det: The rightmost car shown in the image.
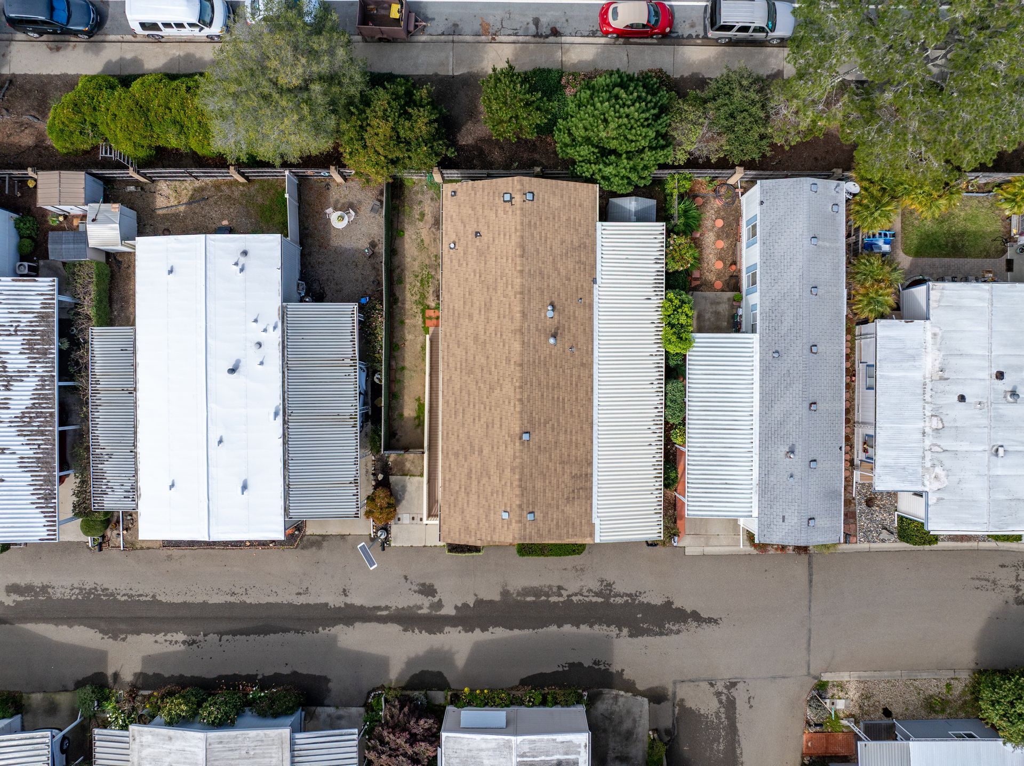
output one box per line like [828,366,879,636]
[700,0,795,43]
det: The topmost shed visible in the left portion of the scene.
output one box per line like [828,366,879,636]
[37,170,104,214]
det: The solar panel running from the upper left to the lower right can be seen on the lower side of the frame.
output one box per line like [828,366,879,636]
[355,541,379,570]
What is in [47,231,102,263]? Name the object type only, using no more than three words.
shed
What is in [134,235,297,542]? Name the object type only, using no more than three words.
house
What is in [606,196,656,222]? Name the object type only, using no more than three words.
shed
